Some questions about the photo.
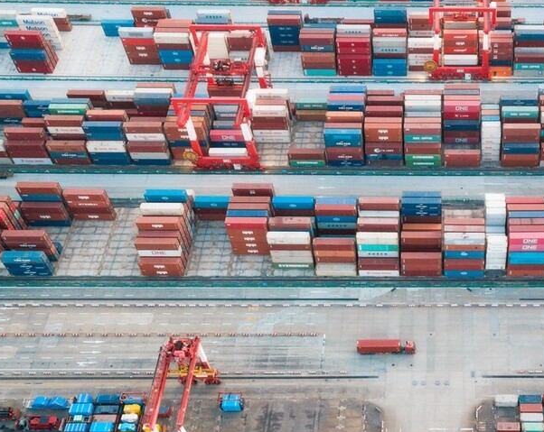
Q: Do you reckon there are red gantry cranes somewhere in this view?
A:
Yes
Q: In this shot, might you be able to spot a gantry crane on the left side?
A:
Yes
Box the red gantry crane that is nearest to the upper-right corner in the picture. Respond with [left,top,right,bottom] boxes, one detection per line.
[423,0,496,77]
